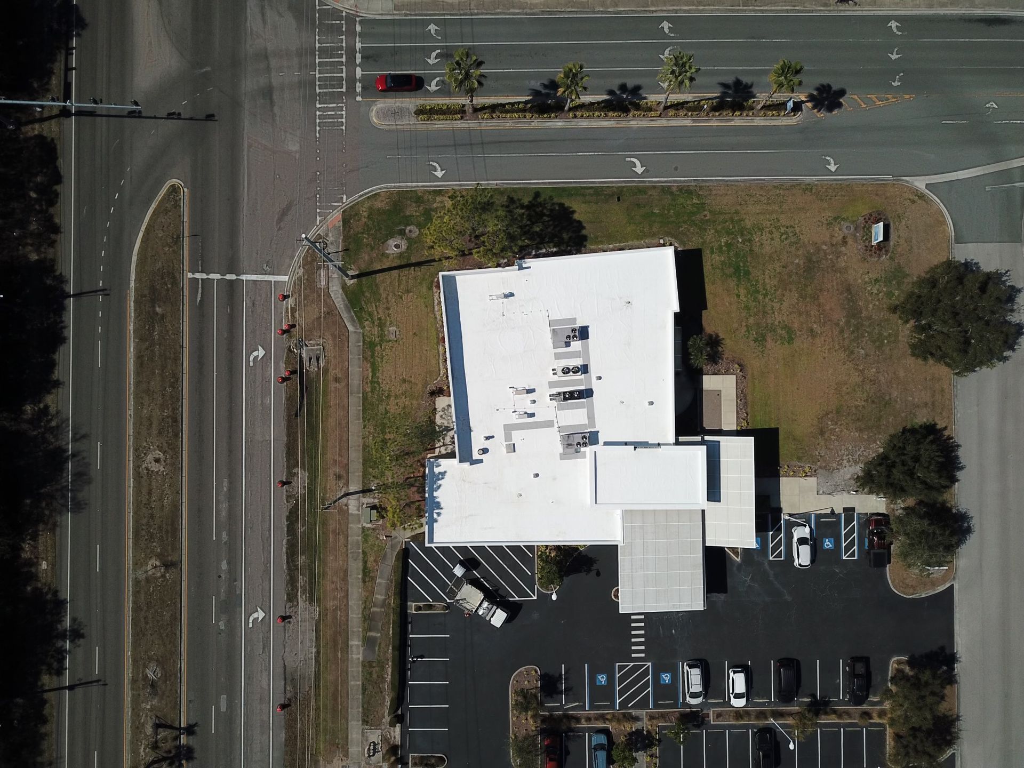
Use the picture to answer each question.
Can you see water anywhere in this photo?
No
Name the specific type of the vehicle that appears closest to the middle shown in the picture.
truck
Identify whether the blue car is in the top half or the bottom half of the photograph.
bottom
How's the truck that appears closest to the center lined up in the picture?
at an angle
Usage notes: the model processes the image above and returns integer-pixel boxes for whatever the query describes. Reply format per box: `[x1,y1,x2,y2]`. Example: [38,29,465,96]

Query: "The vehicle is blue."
[591,731,611,768]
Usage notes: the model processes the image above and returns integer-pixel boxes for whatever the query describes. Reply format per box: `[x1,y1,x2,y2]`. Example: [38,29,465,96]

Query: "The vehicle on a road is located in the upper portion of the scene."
[375,70,416,92]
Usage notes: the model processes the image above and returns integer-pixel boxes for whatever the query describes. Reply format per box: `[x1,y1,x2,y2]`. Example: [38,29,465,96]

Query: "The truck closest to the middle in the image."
[446,577,515,635]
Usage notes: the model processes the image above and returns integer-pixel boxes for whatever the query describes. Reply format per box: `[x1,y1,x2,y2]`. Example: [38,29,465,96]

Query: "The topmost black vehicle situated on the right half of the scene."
[864,513,887,564]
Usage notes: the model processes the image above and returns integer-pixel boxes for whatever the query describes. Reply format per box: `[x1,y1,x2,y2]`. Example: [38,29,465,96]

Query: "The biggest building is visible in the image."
[427,248,755,612]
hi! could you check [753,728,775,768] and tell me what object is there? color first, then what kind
black car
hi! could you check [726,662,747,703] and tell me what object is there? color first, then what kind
white car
